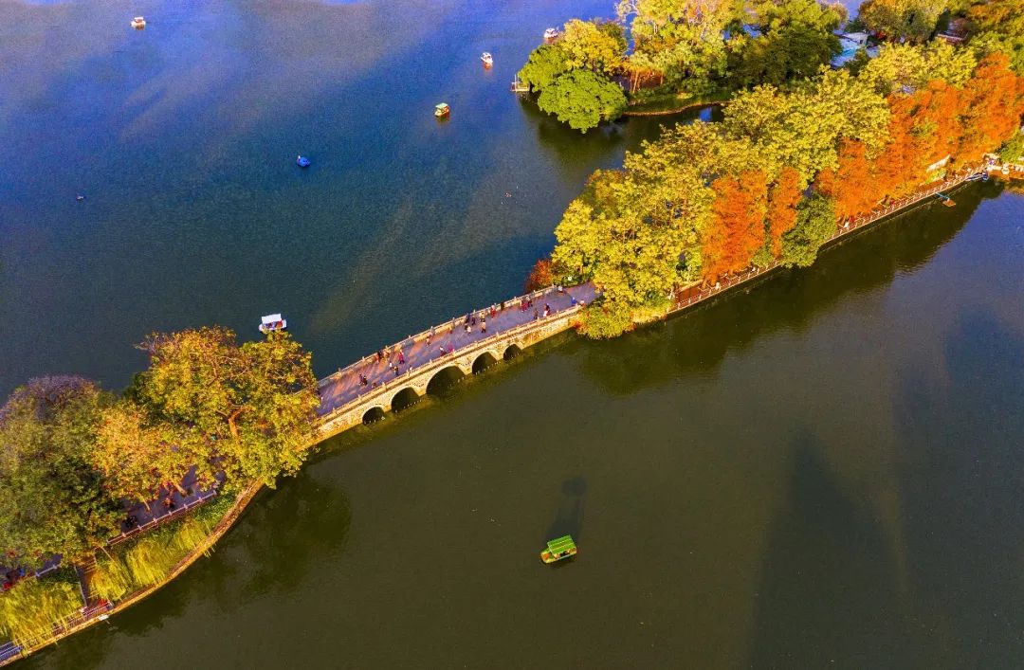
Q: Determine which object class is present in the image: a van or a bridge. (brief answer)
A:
bridge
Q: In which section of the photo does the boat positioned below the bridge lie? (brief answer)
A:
bottom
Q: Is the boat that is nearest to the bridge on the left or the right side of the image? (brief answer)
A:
left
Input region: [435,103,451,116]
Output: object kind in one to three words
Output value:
boat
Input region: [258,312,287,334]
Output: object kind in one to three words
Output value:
boat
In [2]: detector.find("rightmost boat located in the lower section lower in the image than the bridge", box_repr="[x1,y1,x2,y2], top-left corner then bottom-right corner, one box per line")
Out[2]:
[543,532,579,564]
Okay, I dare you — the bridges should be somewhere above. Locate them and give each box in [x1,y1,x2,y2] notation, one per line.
[291,283,577,445]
